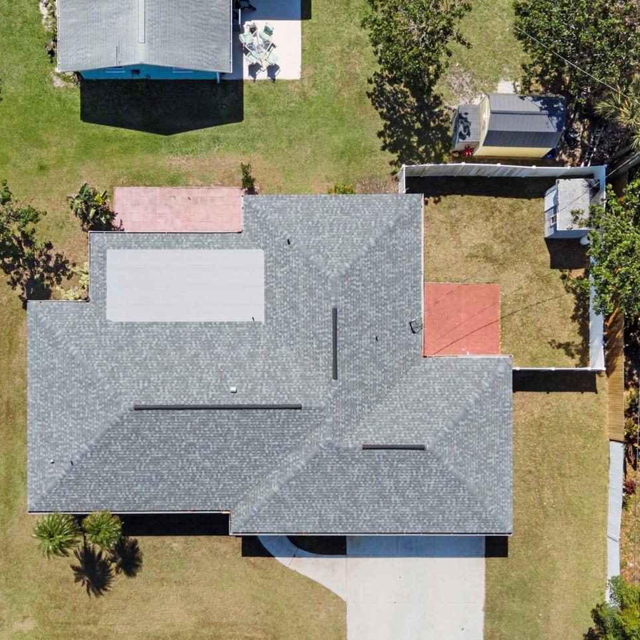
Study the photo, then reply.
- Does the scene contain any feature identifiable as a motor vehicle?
No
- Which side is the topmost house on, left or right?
left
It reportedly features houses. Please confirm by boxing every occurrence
[56,0,242,80]
[28,193,513,537]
